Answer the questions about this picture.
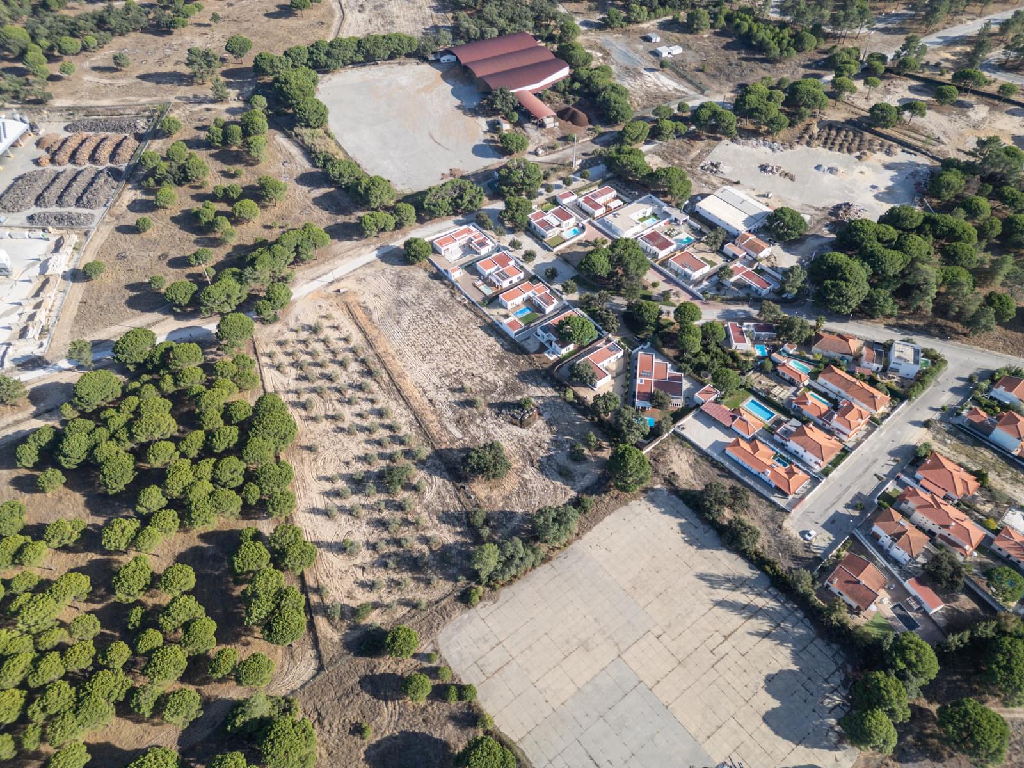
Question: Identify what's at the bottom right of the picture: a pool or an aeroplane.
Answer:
pool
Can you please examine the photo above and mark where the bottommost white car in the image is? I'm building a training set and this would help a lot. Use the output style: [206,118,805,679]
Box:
[803,529,817,542]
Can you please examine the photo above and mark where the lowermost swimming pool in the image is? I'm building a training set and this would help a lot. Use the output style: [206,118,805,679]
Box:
[889,600,922,631]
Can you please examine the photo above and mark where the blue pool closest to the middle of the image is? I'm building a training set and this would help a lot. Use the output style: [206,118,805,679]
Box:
[512,305,534,319]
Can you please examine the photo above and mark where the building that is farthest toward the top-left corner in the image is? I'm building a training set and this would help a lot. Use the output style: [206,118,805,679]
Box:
[0,118,35,169]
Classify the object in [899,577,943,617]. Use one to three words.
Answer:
shed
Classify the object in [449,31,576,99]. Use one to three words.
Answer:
barn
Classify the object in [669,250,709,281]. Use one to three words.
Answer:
house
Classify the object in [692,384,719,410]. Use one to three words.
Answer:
building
